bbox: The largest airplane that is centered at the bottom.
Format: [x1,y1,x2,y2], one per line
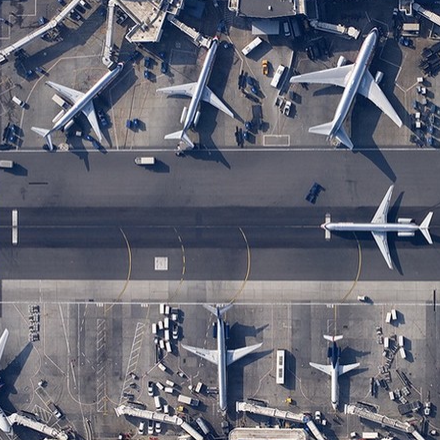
[178,300,261,413]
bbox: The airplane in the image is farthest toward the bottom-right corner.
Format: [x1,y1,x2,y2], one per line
[308,334,361,408]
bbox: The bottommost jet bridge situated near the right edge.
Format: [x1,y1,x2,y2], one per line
[343,403,427,440]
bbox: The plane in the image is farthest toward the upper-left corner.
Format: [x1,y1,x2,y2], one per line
[28,64,123,151]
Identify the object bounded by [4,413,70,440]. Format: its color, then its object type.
white jet bridge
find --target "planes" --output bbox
[308,334,361,408]
[321,186,434,268]
[152,40,231,149]
[291,27,402,149]
[28,64,123,151]
[178,300,261,413]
